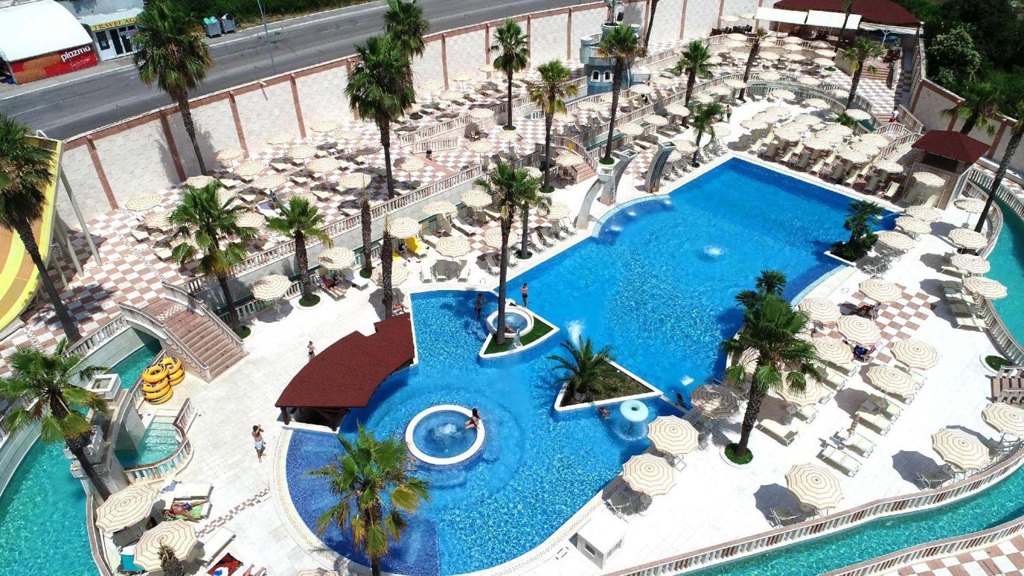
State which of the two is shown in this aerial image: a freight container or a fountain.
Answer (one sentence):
It is a fountain that can be seen here.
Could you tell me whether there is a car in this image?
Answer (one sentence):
No, no car is visible in the scene.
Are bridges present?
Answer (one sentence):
Yes, the image includes a bridge.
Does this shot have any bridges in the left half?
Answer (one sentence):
Yes, looking in the left half, one can make out a bridge.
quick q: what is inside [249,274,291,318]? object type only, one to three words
umbrella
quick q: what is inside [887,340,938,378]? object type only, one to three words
umbrella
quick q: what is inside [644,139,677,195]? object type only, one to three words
fountain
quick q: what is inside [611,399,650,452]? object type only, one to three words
fountain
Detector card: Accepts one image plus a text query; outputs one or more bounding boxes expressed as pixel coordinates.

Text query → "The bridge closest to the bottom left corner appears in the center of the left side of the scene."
[125,277,250,385]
